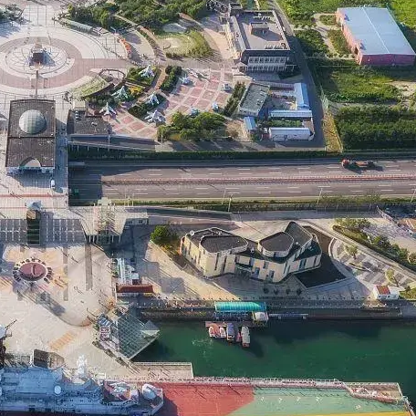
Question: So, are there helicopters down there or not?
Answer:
No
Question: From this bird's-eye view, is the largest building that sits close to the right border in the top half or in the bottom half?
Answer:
top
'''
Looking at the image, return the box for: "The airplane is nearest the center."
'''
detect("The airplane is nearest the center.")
[144,114,163,133]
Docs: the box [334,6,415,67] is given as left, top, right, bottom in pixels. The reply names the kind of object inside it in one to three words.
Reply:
building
